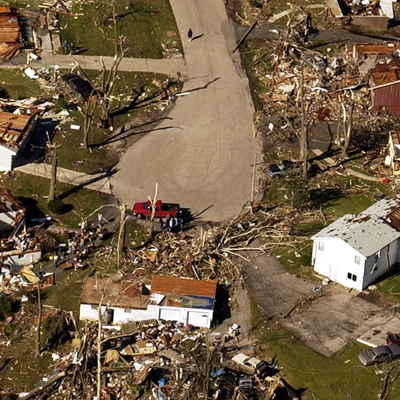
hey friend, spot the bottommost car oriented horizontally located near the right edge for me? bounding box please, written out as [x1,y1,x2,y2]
[356,345,400,368]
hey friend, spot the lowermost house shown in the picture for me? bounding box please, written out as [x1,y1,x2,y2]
[78,275,218,328]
